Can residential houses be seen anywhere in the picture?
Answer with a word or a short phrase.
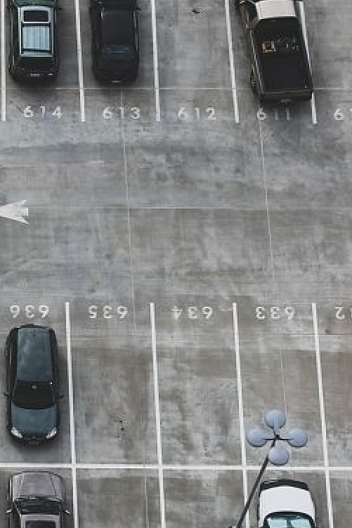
No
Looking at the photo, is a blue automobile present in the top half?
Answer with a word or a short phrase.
No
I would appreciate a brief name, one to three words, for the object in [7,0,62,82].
car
